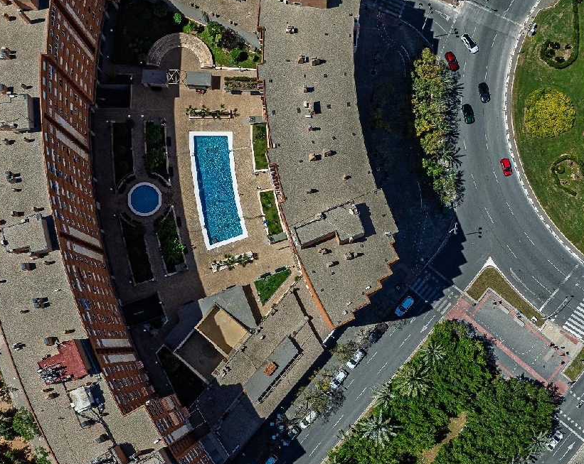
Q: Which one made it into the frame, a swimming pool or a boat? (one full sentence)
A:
The image shows a swimming pool.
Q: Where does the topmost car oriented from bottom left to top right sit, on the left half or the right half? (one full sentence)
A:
The topmost car oriented from bottom left to top right sits on the right side.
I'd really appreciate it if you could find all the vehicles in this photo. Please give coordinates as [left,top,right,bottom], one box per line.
[443,48,458,72]
[396,294,415,316]
[279,424,300,448]
[478,80,490,103]
[346,347,365,370]
[365,325,382,344]
[501,156,513,177]
[330,368,349,391]
[460,30,478,54]
[299,410,319,432]
[262,454,278,464]
[462,102,475,123]
[547,430,566,453]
